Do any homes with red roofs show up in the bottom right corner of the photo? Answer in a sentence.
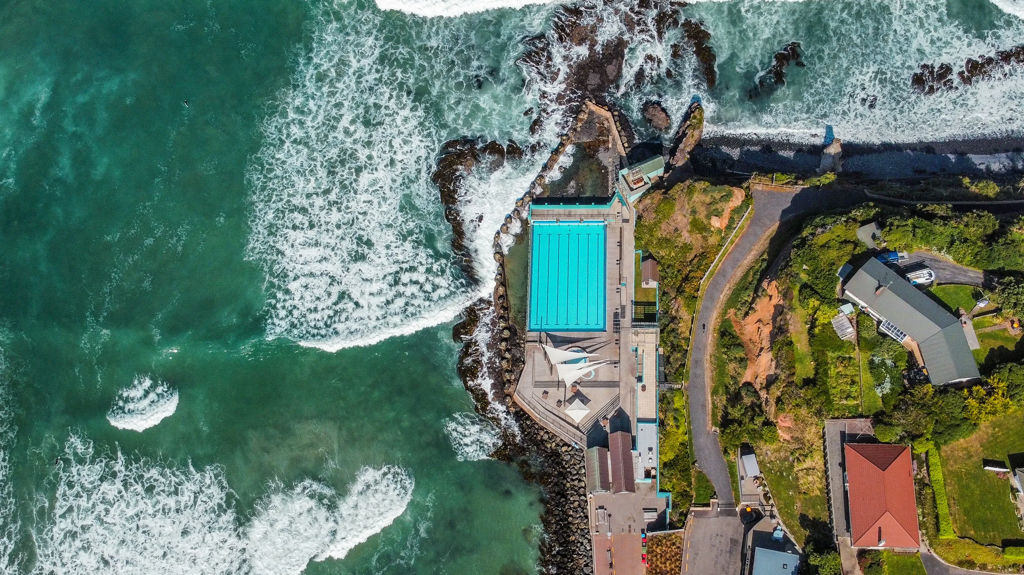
Yes, I can see a home with a red roof in the bottom right corner of the photo.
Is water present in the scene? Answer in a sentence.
Yes, there's water in this view.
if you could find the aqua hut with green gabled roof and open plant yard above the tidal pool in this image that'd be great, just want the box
[617,154,665,204]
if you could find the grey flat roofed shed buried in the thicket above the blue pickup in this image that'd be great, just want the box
[856,222,881,243]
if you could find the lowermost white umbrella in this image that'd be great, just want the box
[564,398,590,424]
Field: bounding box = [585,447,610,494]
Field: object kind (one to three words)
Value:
building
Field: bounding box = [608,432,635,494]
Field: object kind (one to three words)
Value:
building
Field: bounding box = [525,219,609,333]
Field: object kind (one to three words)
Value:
swimming pool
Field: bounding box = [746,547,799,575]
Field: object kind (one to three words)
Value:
house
